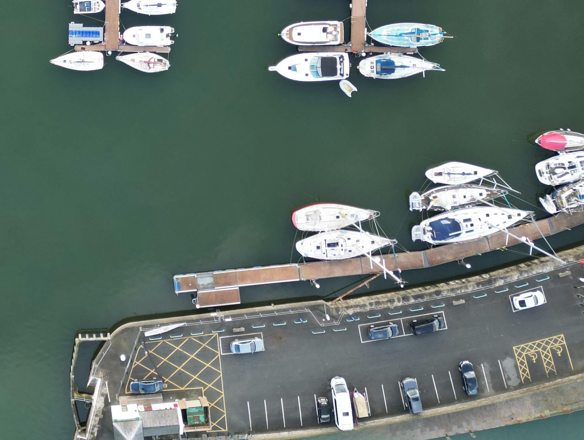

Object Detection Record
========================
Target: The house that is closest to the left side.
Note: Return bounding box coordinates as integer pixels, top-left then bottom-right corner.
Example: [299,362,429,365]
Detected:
[111,401,184,440]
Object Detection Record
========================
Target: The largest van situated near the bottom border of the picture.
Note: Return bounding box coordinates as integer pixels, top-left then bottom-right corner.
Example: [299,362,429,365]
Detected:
[328,374,358,437]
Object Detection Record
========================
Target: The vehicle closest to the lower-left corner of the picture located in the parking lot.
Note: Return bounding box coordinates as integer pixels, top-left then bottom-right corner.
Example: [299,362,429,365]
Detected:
[129,375,164,395]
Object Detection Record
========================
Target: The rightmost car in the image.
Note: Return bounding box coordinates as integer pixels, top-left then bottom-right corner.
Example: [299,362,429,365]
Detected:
[510,288,546,310]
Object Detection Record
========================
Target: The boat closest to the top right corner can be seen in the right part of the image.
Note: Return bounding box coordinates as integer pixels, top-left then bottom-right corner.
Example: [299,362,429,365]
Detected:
[532,130,584,152]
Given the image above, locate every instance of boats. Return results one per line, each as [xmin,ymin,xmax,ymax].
[405,192,421,212]
[420,186,517,217]
[123,27,180,45]
[368,23,455,46]
[423,163,521,194]
[540,195,558,215]
[115,51,171,72]
[358,53,447,77]
[295,230,404,283]
[120,0,178,14]
[341,80,358,99]
[551,180,584,214]
[70,0,106,14]
[280,22,343,46]
[533,152,584,186]
[292,203,379,241]
[408,225,421,244]
[49,50,105,70]
[269,53,350,81]
[419,207,568,266]
[532,130,584,152]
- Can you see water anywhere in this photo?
Yes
